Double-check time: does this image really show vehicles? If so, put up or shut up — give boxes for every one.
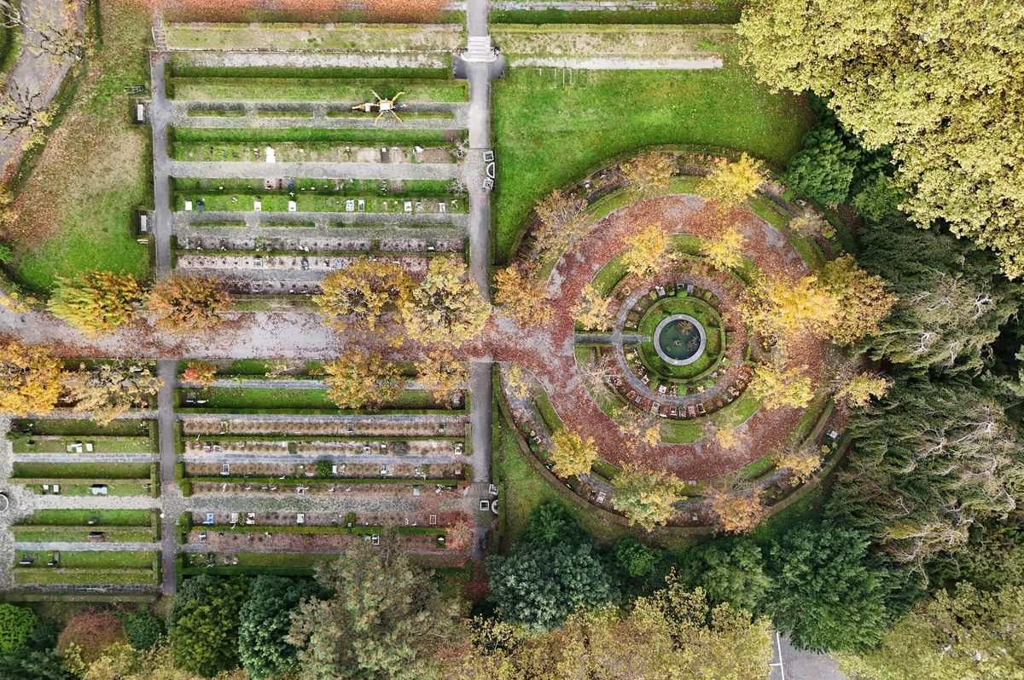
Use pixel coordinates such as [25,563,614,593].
[352,88,407,127]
